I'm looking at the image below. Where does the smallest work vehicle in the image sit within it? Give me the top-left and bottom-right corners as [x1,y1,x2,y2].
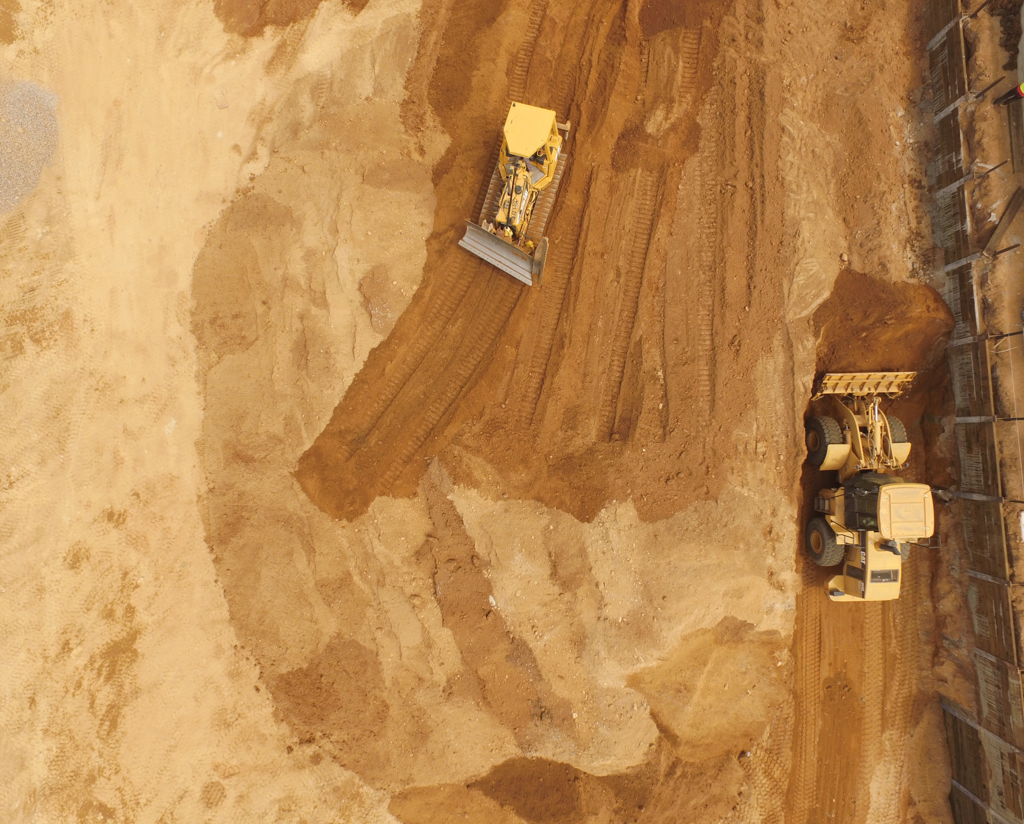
[462,101,572,286]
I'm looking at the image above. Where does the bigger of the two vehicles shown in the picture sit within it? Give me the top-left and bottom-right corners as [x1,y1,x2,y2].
[800,371,937,601]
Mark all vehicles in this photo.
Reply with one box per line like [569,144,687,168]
[462,101,572,286]
[800,371,937,601]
